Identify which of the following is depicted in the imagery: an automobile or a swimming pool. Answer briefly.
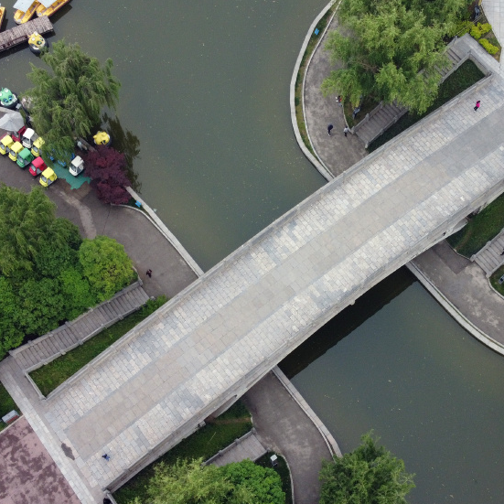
automobile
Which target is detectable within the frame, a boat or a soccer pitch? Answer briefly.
boat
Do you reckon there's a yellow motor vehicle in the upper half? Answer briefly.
Yes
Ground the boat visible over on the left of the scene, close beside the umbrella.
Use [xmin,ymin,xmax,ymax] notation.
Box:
[0,91,18,109]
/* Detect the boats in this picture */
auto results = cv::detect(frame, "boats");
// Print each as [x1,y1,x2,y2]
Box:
[0,91,18,109]
[91,133,112,151]
[13,0,43,24]
[26,36,48,56]
[38,0,72,18]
